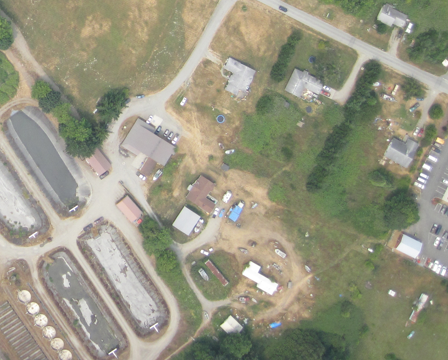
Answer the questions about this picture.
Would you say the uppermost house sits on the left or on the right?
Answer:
right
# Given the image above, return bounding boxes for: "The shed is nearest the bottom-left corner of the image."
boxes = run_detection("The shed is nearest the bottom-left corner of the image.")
[116,194,143,223]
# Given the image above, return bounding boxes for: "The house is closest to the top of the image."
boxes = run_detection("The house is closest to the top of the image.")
[378,4,407,29]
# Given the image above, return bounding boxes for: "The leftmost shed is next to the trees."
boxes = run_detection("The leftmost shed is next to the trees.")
[86,148,113,176]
